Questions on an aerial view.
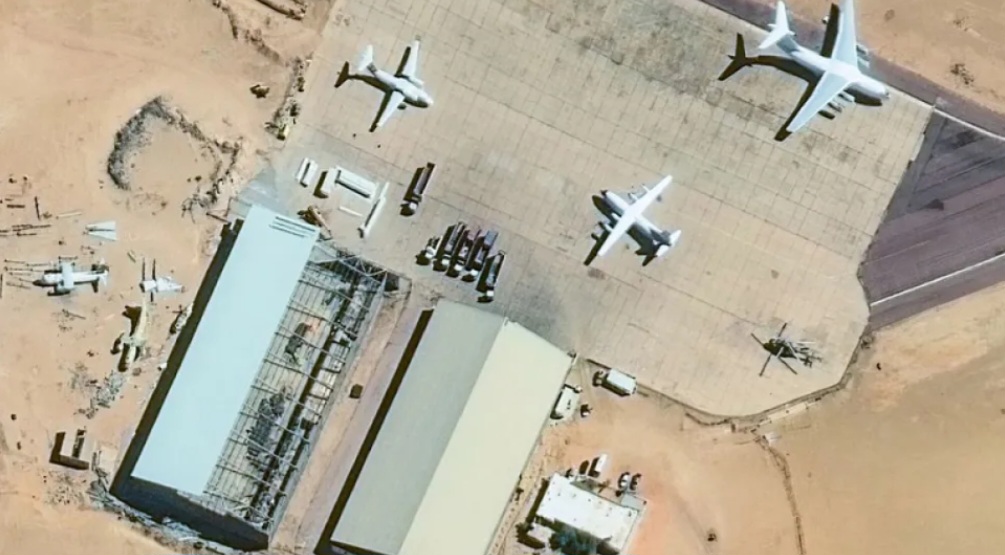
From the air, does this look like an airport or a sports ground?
airport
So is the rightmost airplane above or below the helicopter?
above it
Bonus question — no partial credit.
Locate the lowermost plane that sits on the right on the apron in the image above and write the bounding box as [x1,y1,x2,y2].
[591,172,683,257]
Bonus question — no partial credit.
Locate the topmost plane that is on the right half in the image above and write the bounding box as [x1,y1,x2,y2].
[759,0,887,128]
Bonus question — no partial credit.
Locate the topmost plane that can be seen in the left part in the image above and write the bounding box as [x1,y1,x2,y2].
[356,40,433,130]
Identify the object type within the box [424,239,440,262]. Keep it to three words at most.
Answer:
vehicle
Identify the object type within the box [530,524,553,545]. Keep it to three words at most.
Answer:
shed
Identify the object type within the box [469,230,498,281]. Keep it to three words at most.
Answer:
truck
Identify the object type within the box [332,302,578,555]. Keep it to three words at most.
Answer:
hangar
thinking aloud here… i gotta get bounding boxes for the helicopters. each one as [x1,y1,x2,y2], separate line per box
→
[761,318,819,376]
